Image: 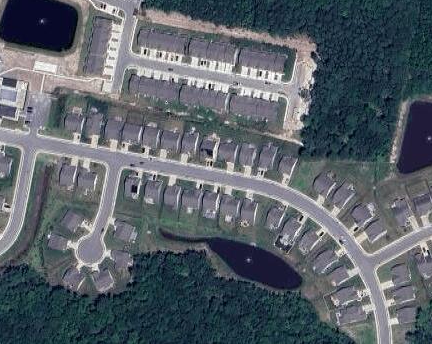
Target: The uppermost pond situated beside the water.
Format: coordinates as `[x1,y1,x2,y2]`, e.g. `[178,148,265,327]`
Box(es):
[0,0,78,51]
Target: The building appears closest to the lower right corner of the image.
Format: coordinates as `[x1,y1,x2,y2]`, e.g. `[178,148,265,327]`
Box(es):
[398,304,421,322]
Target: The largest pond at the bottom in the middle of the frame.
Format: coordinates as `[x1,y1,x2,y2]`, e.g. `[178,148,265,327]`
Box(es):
[161,233,302,290]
